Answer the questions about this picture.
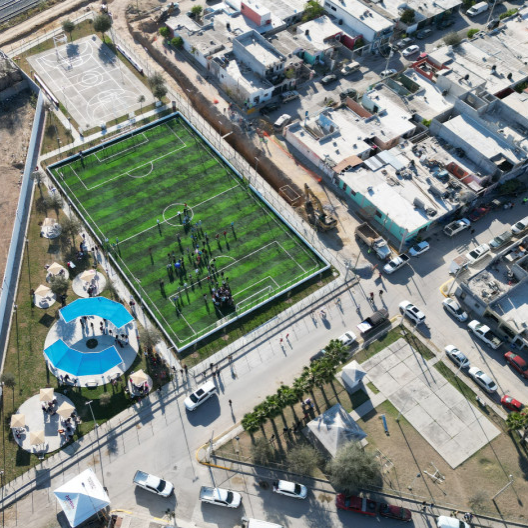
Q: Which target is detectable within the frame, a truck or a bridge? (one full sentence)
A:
There is a truck in the scene.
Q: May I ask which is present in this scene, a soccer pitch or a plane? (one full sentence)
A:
Of the two, only a soccer pitch appears.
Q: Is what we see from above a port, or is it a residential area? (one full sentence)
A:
The picture captures a residential area.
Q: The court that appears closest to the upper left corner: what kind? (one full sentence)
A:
From above, the court that appears closest to the upper left corner can be identified as a basketball court.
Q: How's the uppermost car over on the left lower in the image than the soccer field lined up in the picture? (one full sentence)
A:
The uppermost car over on the left lower in the image than the soccer field is laid out diagonally.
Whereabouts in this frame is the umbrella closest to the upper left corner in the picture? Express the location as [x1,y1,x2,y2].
[43,217,58,230]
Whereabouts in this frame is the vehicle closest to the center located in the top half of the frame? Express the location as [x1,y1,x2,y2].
[296,181,335,228]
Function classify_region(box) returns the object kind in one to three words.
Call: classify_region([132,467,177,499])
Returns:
truck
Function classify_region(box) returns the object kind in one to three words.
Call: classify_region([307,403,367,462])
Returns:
tent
